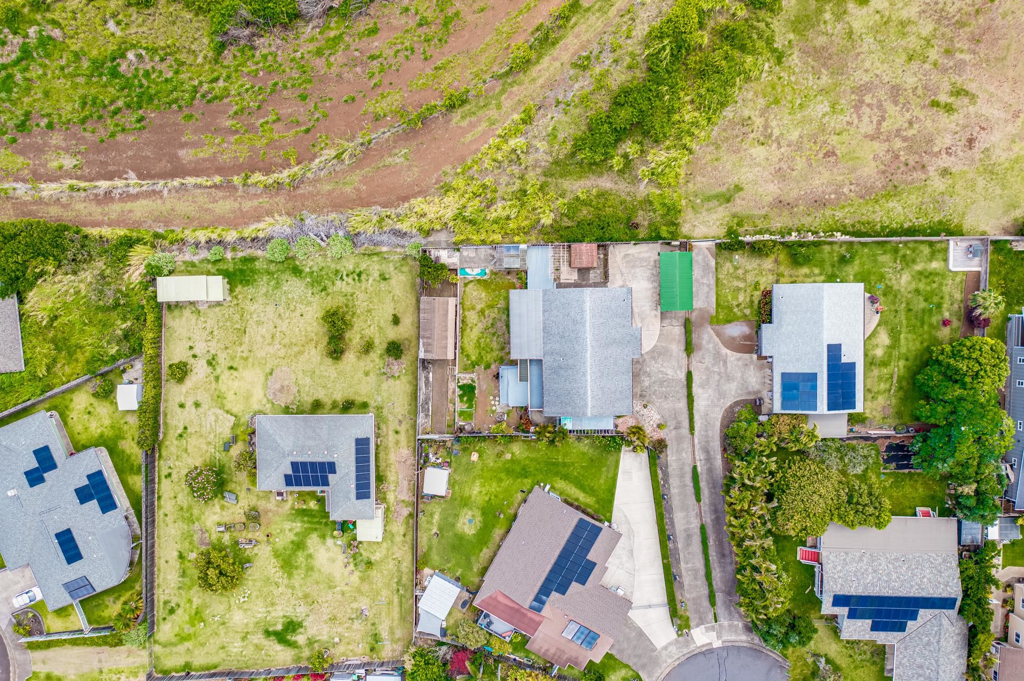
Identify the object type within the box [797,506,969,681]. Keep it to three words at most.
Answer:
house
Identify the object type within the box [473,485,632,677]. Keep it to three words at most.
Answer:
house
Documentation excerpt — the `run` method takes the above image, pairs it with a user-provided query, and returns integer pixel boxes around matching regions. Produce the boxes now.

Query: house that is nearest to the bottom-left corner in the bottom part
[0,410,136,612]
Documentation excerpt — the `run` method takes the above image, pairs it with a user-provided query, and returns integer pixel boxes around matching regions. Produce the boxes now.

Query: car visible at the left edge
[4,584,44,612]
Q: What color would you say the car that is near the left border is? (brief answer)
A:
white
